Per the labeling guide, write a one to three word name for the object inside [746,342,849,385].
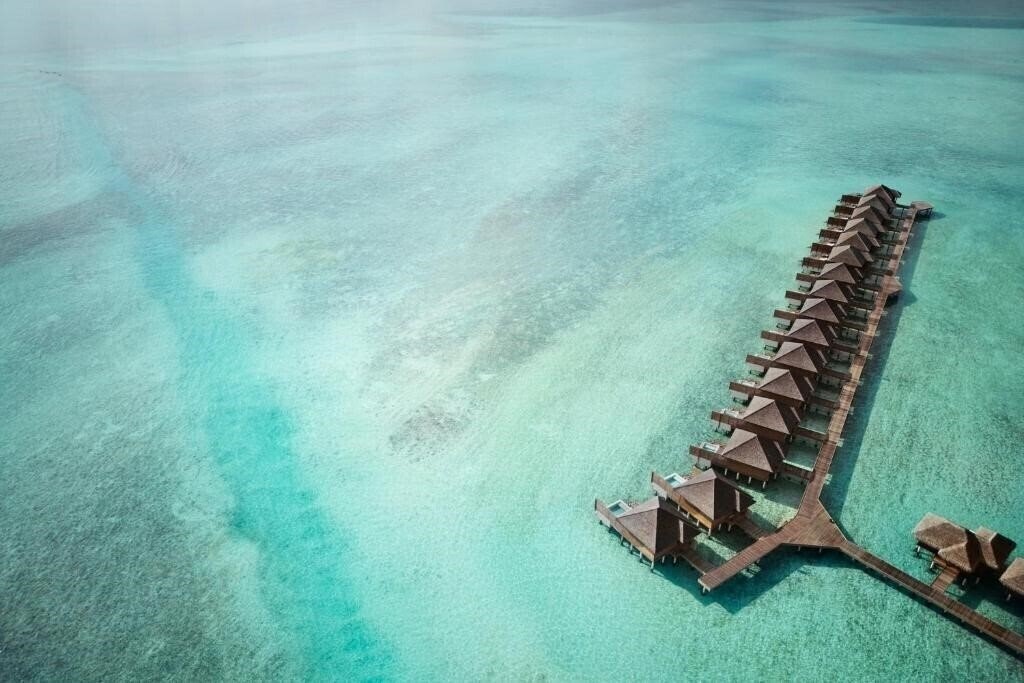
house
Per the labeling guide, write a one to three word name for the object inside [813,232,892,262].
house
